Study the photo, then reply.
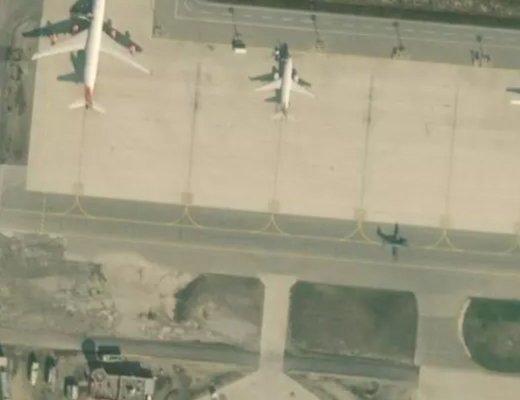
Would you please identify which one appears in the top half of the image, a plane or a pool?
plane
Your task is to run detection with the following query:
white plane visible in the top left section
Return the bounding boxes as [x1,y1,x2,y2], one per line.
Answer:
[31,0,152,113]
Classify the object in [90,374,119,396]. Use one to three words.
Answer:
house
